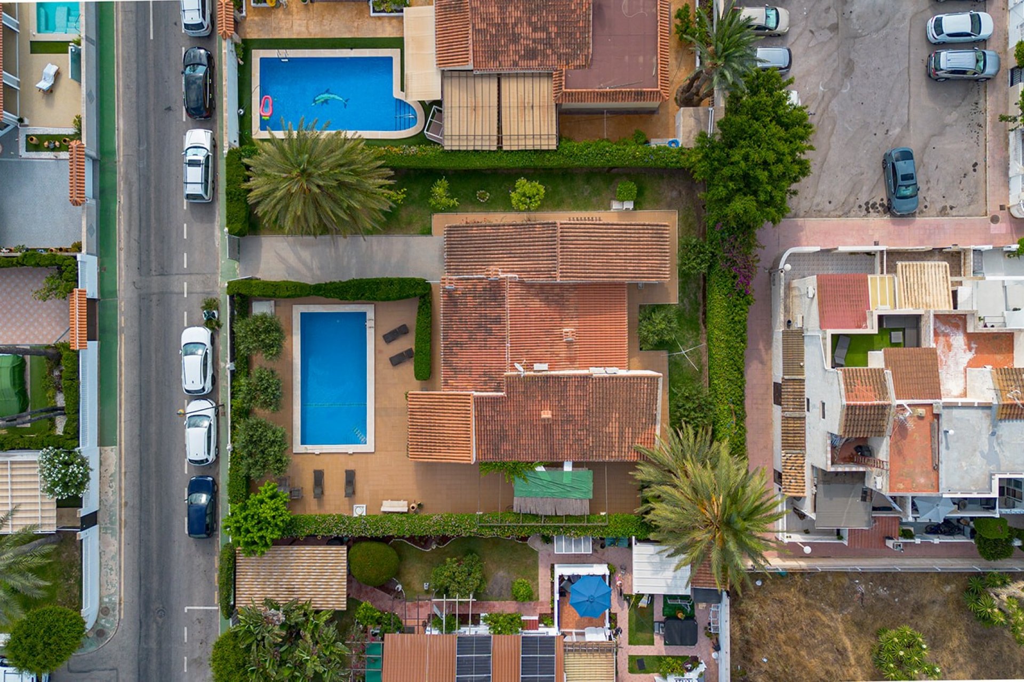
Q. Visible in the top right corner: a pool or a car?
car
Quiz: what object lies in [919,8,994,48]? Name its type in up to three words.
car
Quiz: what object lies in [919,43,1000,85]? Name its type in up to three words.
car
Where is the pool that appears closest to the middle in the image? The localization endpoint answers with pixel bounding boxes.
[293,304,375,453]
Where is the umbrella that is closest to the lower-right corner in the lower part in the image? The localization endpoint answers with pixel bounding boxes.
[908,495,957,530]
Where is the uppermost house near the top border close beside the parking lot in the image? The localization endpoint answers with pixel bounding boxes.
[435,0,672,117]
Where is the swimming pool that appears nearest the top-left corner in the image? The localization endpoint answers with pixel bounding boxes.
[29,0,79,40]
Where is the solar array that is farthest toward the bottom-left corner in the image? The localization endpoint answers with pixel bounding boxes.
[457,636,491,682]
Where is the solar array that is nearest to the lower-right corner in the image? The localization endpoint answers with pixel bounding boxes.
[521,636,555,682]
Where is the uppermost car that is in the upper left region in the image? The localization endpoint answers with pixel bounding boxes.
[177,0,218,40]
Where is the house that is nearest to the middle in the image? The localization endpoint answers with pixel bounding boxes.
[407,220,671,464]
